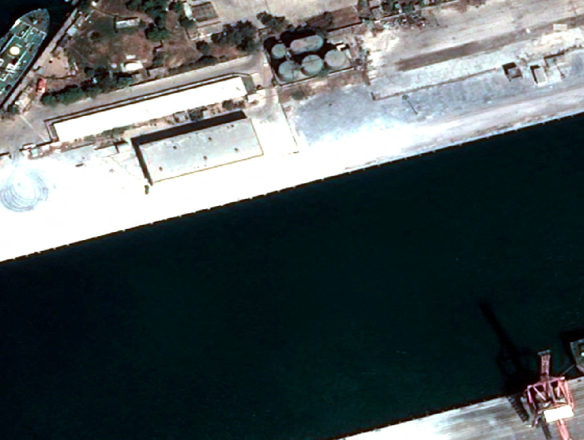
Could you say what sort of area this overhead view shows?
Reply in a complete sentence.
The area seen from above is a port.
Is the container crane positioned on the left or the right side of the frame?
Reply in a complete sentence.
It is on the right.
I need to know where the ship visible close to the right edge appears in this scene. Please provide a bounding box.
[569,339,584,373]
